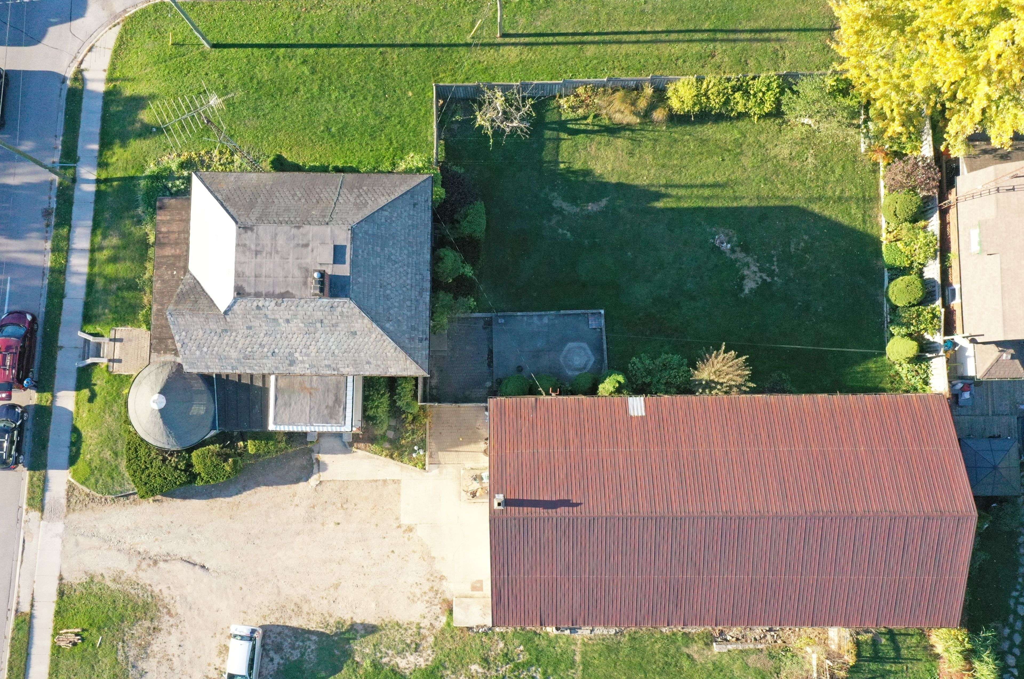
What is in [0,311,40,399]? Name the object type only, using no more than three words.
car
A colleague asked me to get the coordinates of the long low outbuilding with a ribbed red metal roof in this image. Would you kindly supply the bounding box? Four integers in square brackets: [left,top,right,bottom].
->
[488,385,978,629]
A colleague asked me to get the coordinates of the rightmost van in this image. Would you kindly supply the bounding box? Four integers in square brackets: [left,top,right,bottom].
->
[216,621,263,679]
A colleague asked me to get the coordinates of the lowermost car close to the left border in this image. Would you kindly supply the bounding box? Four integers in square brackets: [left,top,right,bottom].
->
[0,403,30,474]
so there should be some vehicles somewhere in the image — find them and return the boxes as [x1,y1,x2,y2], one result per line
[0,403,30,474]
[0,311,40,399]
[216,621,263,679]
[0,66,12,132]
